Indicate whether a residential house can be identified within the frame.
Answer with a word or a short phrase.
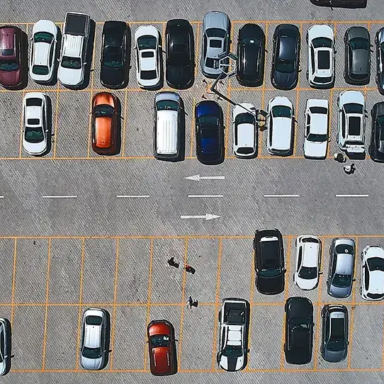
No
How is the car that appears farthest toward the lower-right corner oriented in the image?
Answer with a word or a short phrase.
vertically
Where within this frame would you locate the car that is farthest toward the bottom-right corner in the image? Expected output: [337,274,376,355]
[321,304,351,361]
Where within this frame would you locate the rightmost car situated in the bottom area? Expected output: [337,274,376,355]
[360,245,384,300]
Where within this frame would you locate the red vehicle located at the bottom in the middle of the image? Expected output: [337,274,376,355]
[146,320,176,375]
